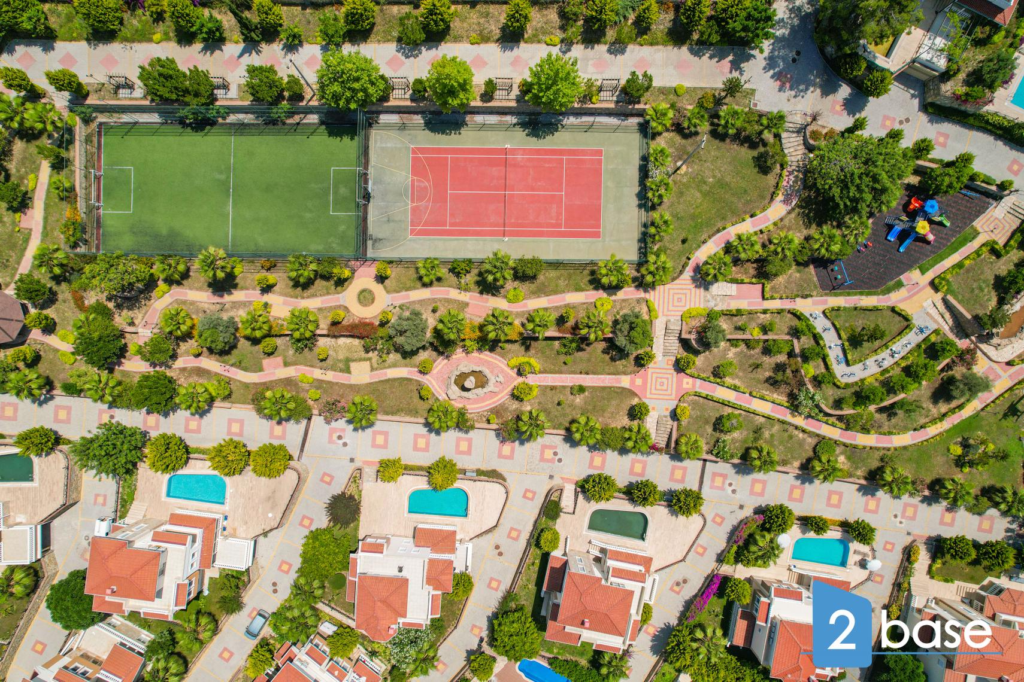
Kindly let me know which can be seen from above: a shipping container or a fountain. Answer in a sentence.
Visible in the photo is a fountain.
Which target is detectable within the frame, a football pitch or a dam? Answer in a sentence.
The one in the frame is a football pitch.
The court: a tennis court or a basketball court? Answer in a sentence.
What you see as the court is a tennis court.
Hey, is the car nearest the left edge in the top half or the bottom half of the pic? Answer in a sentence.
You can find the car nearest the left edge in the bottom half.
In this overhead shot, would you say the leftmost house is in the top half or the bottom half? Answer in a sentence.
It is in the bottom half that the leftmost house appears.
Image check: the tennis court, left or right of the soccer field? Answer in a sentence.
To the right of the soccer field is where the tennis court appears.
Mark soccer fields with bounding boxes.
[95,122,368,257]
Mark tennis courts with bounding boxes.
[366,121,639,262]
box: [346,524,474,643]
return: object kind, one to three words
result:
house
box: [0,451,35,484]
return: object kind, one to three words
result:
swimming pool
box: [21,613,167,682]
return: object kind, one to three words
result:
house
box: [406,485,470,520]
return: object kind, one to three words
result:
swimming pool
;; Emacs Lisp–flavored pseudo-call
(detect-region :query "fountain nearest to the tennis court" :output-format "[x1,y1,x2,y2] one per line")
[446,362,498,399]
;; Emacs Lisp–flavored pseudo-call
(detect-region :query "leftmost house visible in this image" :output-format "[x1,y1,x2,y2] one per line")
[0,502,57,567]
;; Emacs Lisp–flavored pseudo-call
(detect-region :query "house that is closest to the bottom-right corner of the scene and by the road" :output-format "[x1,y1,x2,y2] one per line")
[897,579,1024,682]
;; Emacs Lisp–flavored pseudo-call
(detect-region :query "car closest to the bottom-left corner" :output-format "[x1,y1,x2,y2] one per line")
[246,607,271,641]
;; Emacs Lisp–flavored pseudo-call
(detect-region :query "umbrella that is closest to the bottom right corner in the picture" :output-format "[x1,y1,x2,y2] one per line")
[862,556,881,573]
